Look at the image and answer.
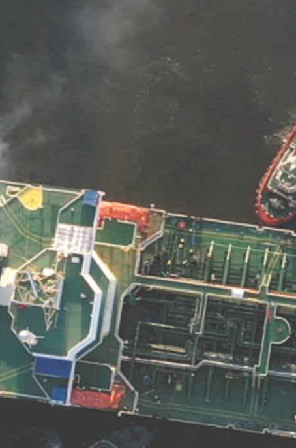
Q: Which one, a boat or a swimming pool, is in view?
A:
boat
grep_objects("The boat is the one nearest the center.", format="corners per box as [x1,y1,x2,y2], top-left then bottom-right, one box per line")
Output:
[102,201,150,227]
